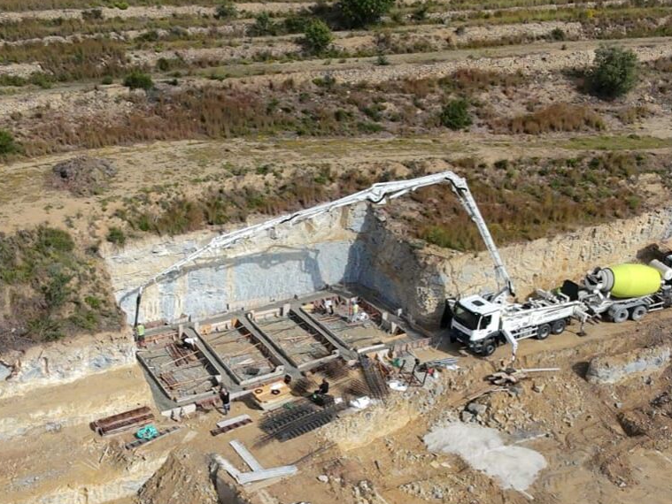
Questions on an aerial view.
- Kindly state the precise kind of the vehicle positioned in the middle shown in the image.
truck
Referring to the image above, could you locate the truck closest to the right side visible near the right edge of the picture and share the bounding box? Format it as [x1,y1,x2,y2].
[577,251,672,321]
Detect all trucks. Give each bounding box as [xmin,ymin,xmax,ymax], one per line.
[135,169,594,365]
[577,251,672,321]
